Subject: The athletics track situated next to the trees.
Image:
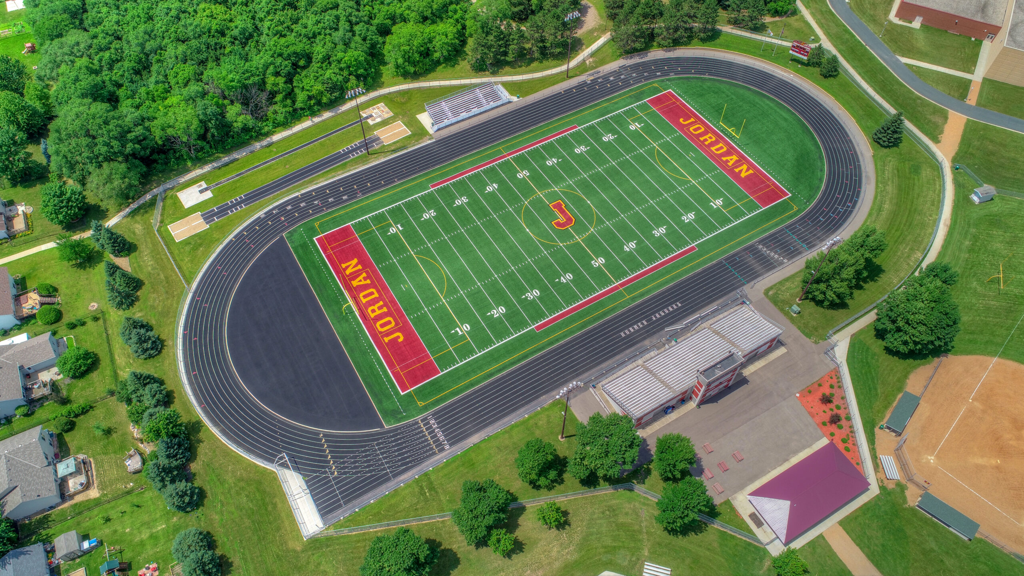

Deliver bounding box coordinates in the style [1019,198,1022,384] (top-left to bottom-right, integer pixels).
[184,57,864,476]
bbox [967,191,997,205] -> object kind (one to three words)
shed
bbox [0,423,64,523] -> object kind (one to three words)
house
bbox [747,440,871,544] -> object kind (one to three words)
building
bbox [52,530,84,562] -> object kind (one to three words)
shed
